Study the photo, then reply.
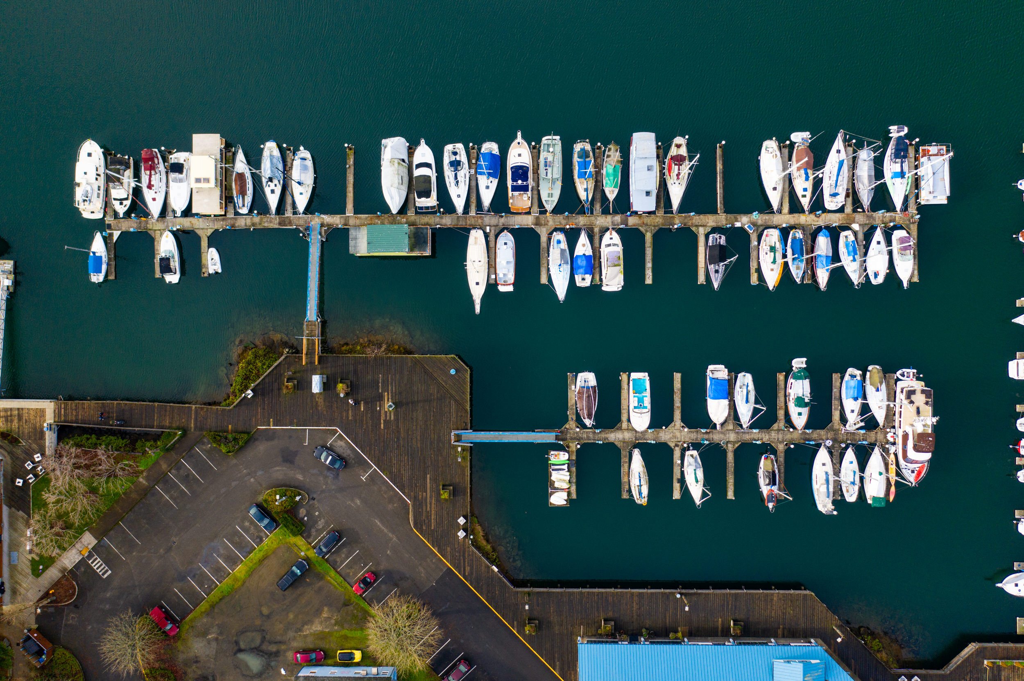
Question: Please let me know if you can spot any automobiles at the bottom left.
Yes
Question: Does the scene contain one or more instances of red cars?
Yes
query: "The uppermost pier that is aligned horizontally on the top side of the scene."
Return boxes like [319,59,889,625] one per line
[106,143,919,284]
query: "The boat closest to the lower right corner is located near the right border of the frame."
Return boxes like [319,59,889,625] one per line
[993,570,1024,598]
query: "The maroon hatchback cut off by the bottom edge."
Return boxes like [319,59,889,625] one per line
[441,658,472,681]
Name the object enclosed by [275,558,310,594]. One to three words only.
truck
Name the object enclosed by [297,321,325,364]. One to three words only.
pier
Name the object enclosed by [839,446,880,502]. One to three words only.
boat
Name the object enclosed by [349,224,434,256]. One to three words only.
house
